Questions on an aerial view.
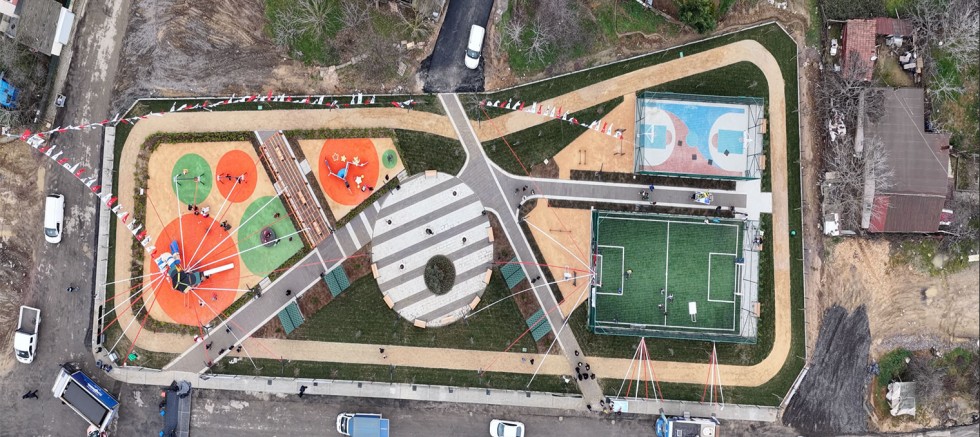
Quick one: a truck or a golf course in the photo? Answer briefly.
truck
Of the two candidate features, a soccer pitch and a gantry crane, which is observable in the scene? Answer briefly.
soccer pitch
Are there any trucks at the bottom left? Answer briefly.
Yes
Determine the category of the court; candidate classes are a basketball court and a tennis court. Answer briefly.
basketball court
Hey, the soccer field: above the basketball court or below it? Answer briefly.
below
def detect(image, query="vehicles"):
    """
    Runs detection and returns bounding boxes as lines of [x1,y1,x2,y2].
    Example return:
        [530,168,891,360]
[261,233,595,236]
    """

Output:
[43,193,67,244]
[335,412,387,437]
[489,420,525,437]
[12,306,44,363]
[464,25,483,73]
[657,415,723,437]
[54,362,121,427]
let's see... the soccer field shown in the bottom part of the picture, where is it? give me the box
[591,210,744,336]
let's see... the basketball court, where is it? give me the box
[636,100,747,178]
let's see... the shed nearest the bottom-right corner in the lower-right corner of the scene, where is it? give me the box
[883,381,915,416]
